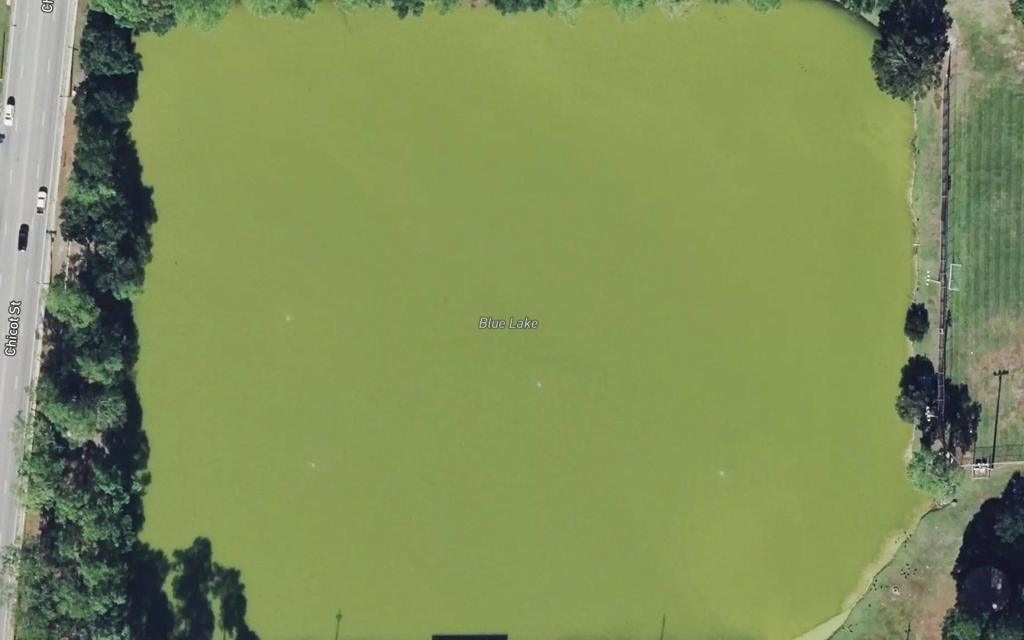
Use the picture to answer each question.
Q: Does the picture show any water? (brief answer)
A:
Yes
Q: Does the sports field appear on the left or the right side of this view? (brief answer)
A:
right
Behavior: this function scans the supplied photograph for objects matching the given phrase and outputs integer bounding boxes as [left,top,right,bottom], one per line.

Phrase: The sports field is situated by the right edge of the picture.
[951,0,1024,465]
